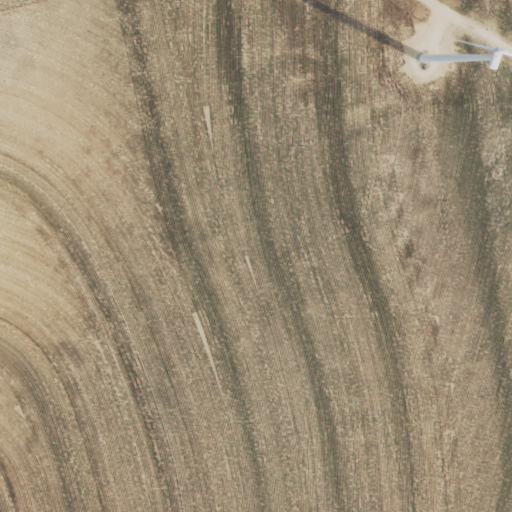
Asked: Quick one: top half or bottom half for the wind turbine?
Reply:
top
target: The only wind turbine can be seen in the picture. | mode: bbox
[418,36,512,69]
